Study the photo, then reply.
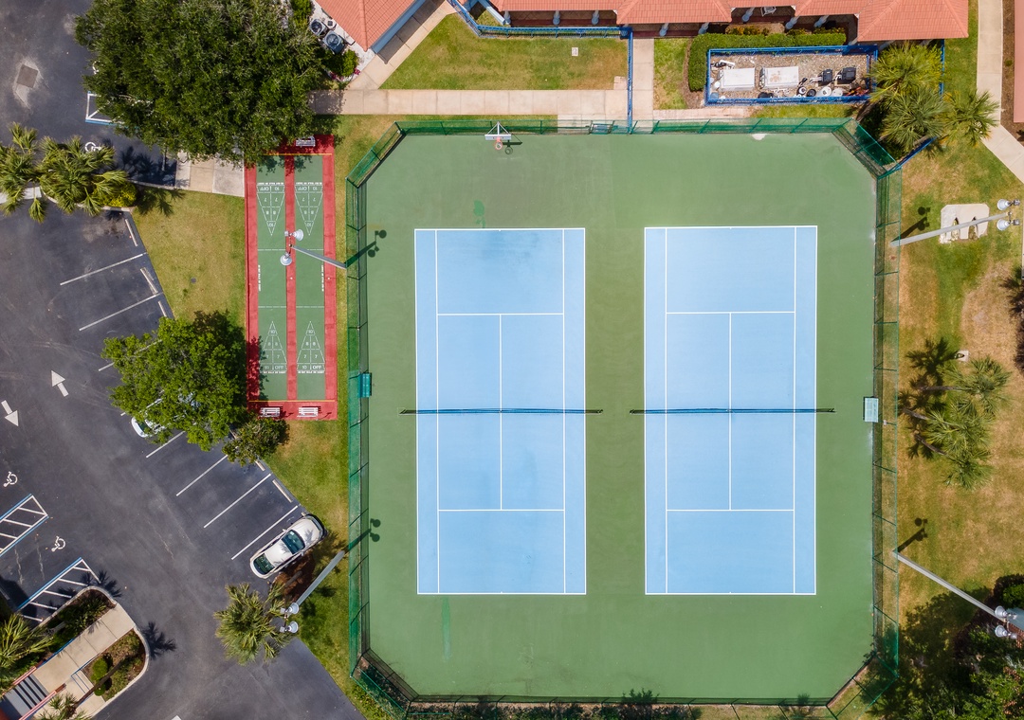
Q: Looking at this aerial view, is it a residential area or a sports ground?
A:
sports ground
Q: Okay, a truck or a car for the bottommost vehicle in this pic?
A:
car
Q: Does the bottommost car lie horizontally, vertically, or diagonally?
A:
diagonally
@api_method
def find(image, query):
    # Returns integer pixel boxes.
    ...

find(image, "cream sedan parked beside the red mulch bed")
[254,517,326,579]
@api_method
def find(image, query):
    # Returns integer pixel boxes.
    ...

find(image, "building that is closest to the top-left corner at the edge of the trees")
[315,0,421,51]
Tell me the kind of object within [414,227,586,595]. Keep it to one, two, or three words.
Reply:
tennis court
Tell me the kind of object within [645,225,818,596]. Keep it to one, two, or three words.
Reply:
tennis court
